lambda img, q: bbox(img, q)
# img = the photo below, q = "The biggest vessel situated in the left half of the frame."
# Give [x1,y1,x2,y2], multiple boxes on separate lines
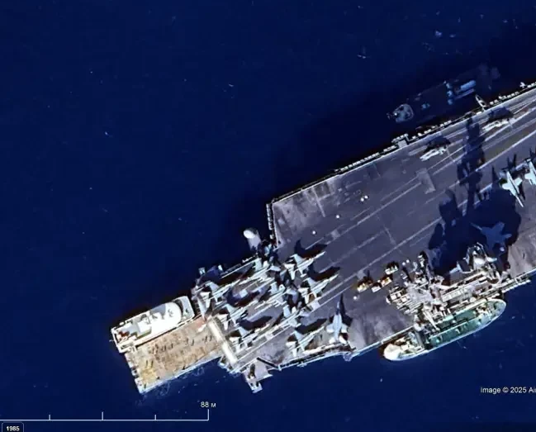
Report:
[125,317,219,394]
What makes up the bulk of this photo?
water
